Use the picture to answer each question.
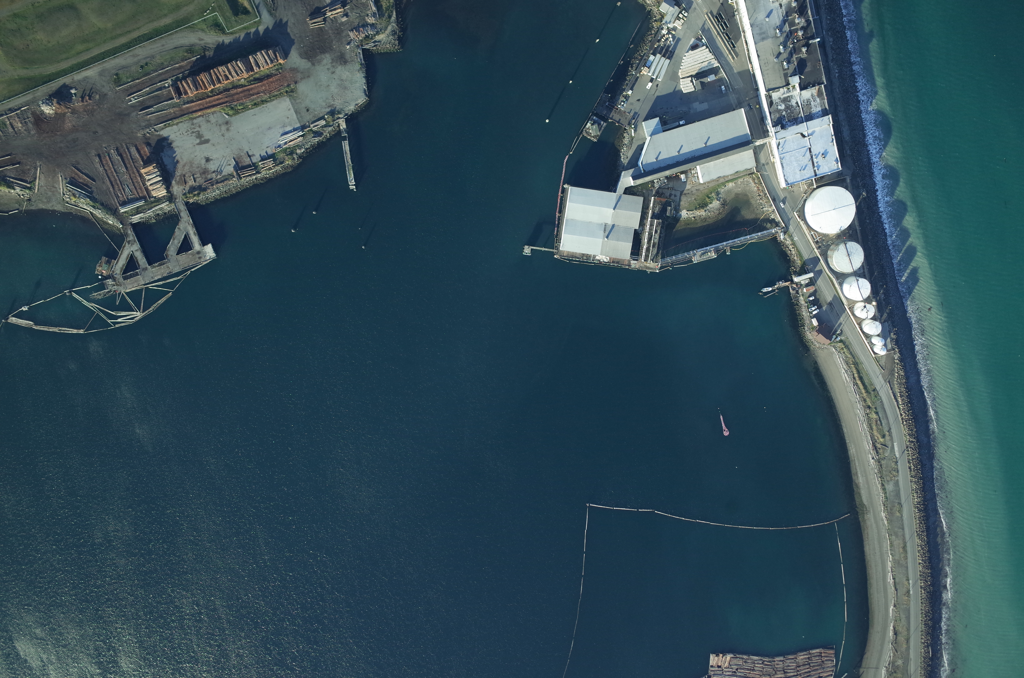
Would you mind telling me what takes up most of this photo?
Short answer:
water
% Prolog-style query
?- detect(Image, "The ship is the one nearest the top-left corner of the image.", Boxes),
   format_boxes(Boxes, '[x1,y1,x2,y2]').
[95,256,115,276]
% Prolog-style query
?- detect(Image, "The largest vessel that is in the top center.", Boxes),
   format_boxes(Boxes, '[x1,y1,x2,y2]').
[582,116,607,141]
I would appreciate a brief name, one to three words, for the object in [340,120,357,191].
pier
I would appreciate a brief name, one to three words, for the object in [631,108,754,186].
building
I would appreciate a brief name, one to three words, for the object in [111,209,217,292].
pier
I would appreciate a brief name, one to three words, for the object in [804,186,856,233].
storage tank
